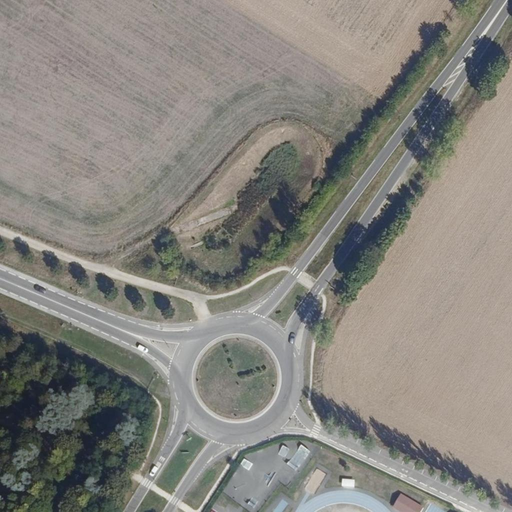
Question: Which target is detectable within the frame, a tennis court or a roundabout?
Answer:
roundabout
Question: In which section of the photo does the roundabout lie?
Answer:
bottom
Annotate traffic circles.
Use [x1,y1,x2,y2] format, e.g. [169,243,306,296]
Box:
[141,270,326,496]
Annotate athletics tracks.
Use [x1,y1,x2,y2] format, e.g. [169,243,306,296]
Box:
[294,490,392,512]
